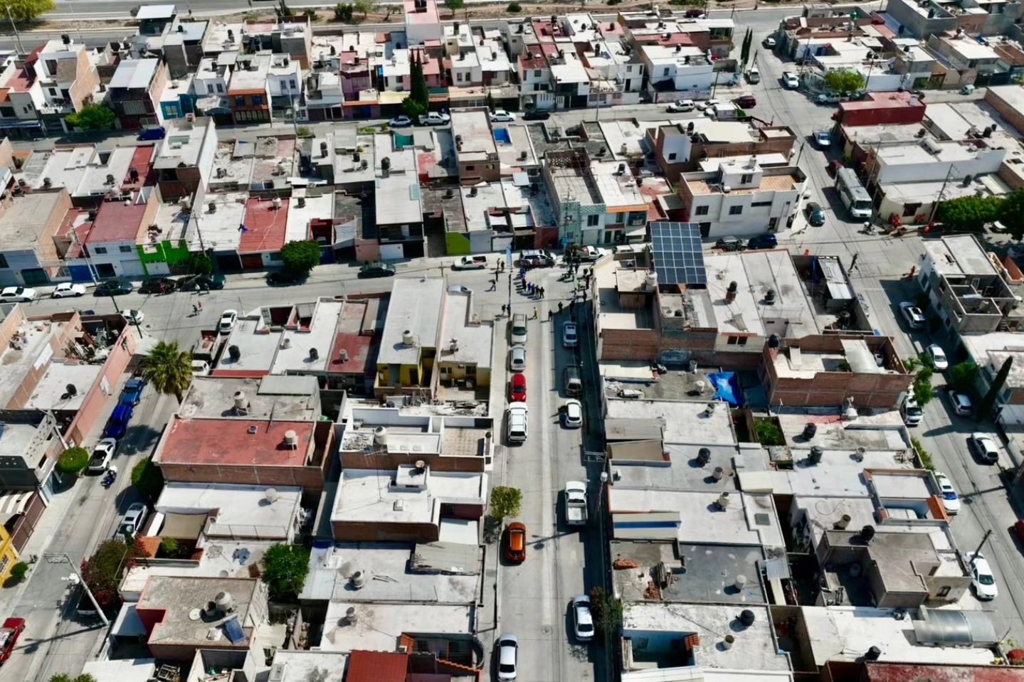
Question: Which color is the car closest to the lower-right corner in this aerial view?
white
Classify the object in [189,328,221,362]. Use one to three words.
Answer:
truck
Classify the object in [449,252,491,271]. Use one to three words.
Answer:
vehicle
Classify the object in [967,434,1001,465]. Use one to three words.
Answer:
car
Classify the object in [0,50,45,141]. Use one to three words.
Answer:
house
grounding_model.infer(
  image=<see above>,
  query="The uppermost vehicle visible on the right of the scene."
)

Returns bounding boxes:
[683,7,709,19]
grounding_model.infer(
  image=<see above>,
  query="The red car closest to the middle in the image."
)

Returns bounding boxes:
[509,373,527,404]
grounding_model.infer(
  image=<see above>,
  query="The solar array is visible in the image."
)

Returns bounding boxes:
[648,222,706,299]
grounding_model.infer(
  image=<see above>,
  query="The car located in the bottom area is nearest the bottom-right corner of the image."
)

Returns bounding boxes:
[961,554,1004,602]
